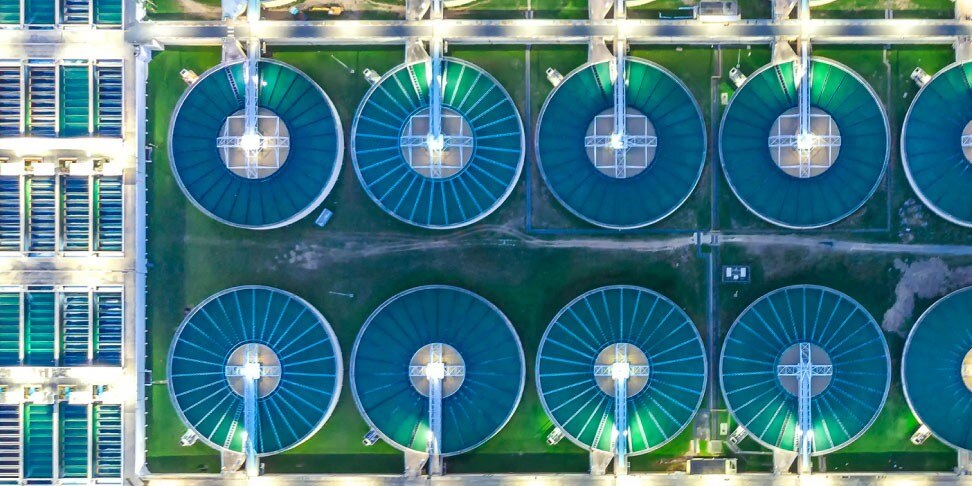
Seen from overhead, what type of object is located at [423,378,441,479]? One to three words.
bridge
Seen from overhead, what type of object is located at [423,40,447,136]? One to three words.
bridge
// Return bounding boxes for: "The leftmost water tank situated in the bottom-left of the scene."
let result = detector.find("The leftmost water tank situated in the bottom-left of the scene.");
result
[166,285,342,480]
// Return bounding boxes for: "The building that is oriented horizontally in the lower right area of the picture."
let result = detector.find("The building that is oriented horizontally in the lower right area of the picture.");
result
[686,457,737,474]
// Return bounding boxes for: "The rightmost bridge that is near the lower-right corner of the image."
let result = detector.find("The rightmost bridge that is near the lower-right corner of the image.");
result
[802,378,828,480]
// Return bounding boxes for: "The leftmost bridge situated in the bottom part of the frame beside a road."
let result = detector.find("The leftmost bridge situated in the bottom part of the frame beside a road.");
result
[234,378,257,480]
